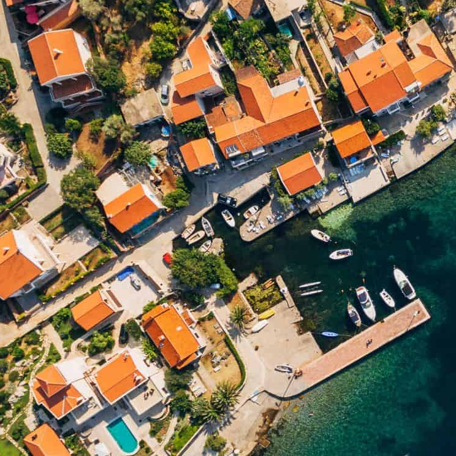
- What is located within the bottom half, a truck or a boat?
boat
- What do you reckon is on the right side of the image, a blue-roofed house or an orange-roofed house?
orange-roofed house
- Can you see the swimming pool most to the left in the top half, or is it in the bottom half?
bottom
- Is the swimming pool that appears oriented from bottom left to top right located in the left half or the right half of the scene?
left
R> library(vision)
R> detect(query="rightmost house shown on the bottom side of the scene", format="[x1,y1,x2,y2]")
[141,302,208,369]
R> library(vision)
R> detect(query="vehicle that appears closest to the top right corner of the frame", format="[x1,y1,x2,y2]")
[401,99,415,111]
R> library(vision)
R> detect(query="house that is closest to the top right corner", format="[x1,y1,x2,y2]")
[407,18,451,91]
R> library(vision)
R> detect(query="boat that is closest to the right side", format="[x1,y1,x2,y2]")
[394,269,416,300]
